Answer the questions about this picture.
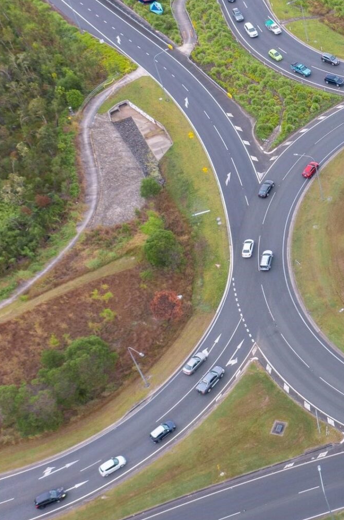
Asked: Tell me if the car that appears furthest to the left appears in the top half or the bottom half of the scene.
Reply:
bottom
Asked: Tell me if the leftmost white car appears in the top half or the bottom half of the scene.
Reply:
bottom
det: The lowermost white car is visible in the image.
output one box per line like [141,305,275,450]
[95,454,131,479]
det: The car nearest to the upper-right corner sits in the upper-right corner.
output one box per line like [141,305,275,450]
[321,52,340,66]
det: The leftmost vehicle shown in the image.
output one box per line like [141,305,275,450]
[32,489,68,511]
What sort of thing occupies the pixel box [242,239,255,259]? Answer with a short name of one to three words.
vehicle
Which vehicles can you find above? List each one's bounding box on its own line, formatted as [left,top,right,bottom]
[264,17,281,34]
[290,62,312,77]
[181,351,209,375]
[267,50,283,62]
[147,420,179,446]
[32,489,68,511]
[245,23,258,36]
[324,74,344,87]
[233,8,244,21]
[193,366,227,393]
[95,454,131,479]
[321,52,340,66]
[242,239,255,259]
[260,250,273,272]
[300,162,320,179]
[257,180,275,199]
